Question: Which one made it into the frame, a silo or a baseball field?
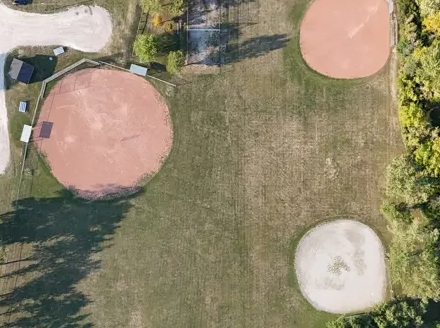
baseball field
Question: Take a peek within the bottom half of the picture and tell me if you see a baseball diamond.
Yes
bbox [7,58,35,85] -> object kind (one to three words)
shed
